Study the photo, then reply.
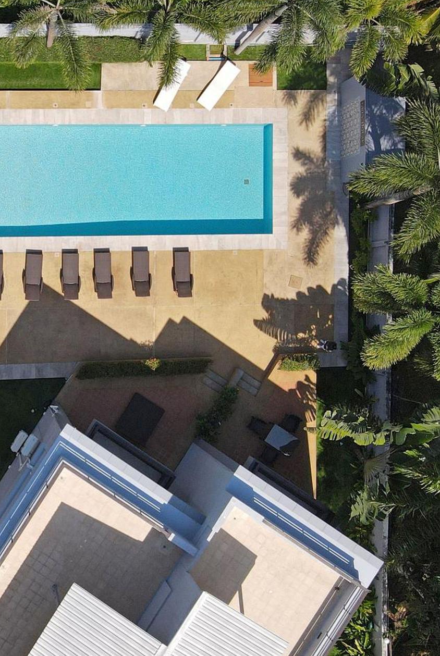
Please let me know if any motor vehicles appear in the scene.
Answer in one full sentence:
No, the picture doesn't show any motor vehicle.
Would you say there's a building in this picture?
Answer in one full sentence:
Yes, there's a building down there.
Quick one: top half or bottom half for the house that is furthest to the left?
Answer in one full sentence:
The bottom half of the photo is where the house that is furthest to the left is.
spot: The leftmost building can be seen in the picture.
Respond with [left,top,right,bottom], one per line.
[0,400,205,656]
